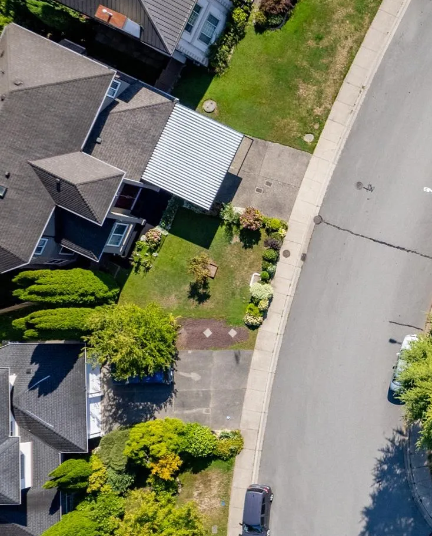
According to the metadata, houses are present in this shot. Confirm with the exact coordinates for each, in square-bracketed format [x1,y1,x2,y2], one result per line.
[56,0,256,72]
[0,342,108,536]
[0,22,182,267]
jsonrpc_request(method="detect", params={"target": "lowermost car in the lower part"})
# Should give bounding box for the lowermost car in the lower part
[240,481,276,536]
